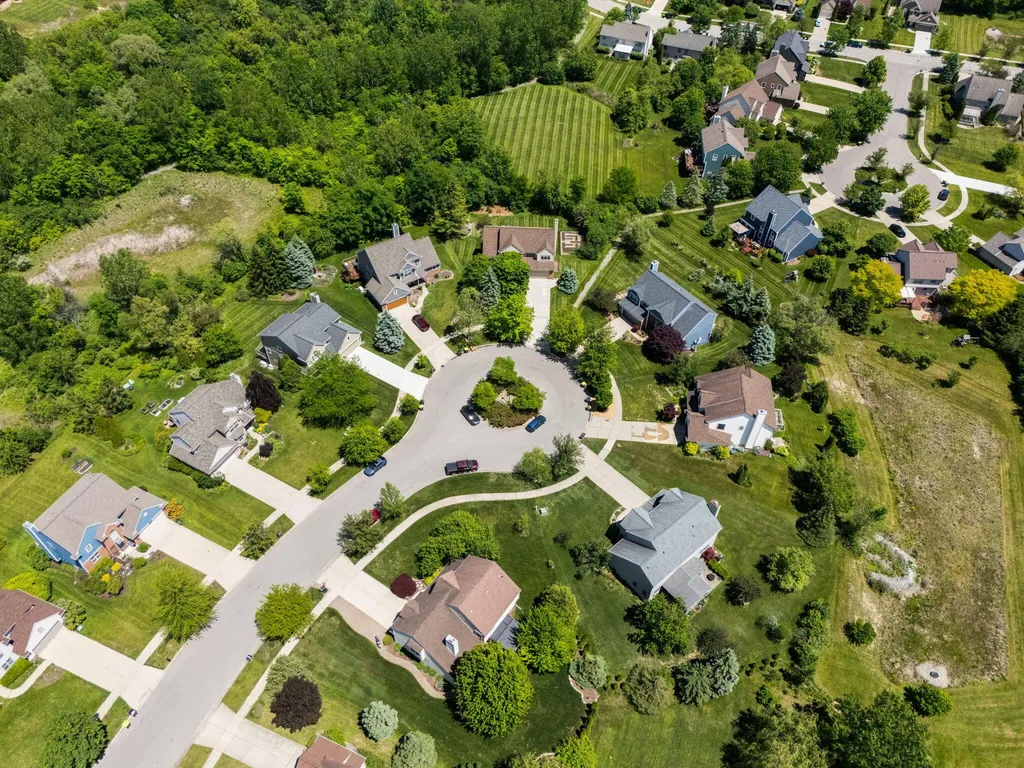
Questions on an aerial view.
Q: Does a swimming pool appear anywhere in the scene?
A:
No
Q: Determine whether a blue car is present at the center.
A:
Yes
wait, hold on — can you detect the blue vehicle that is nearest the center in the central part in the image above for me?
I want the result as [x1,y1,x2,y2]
[524,414,547,433]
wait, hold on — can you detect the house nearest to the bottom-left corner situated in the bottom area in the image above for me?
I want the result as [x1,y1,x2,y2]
[0,588,65,676]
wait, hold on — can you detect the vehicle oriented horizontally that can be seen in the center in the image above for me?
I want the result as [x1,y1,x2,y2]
[444,457,480,474]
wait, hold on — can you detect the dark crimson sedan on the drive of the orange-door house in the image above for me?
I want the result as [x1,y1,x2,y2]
[411,313,431,331]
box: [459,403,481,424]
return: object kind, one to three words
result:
car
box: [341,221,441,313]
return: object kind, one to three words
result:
house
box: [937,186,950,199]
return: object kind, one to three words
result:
vehicle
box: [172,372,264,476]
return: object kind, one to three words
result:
house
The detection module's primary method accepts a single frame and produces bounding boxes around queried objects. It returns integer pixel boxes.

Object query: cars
[459,403,481,424]
[362,454,389,477]
[819,40,835,48]
[524,414,547,433]
[362,503,381,525]
[937,186,950,199]
[411,313,431,331]
[888,224,908,238]
[847,40,862,49]
[815,17,822,25]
